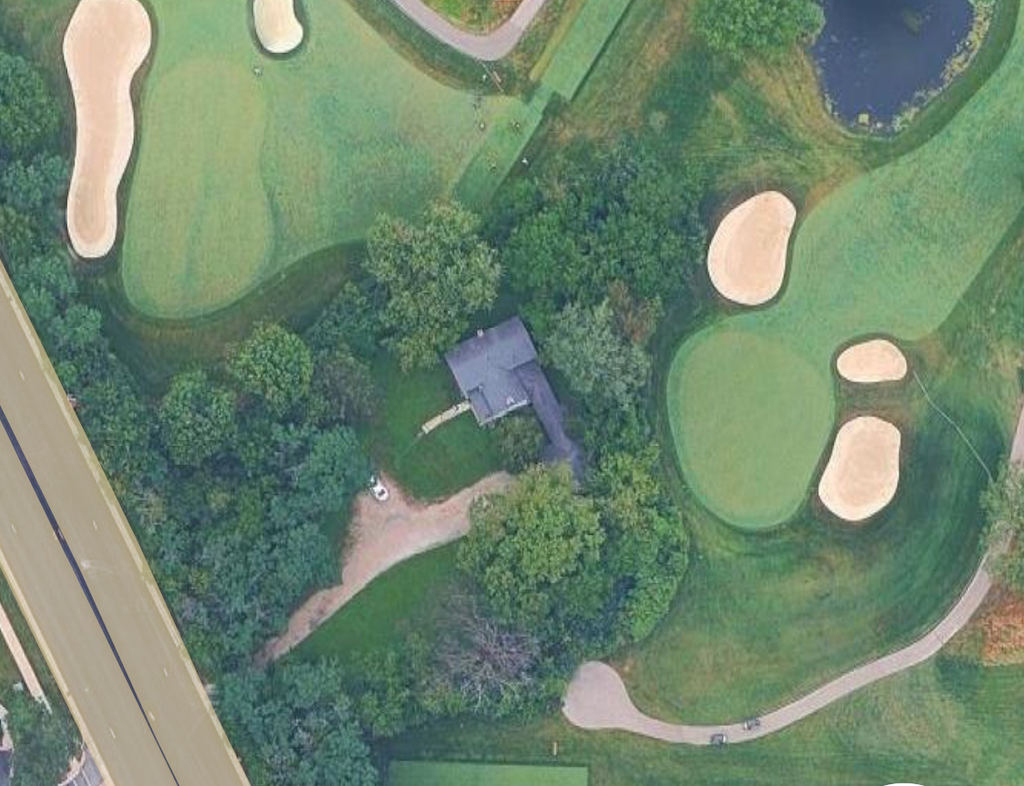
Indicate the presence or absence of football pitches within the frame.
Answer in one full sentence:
No, I find no football pitch anywhere in the image.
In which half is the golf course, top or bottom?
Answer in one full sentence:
Seen from above, the golf course lies in the top half of the view.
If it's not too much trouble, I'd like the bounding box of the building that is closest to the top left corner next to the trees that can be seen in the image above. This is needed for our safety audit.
[444,317,550,426]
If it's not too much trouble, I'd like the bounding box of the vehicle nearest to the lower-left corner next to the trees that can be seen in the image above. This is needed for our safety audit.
[371,478,391,504]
